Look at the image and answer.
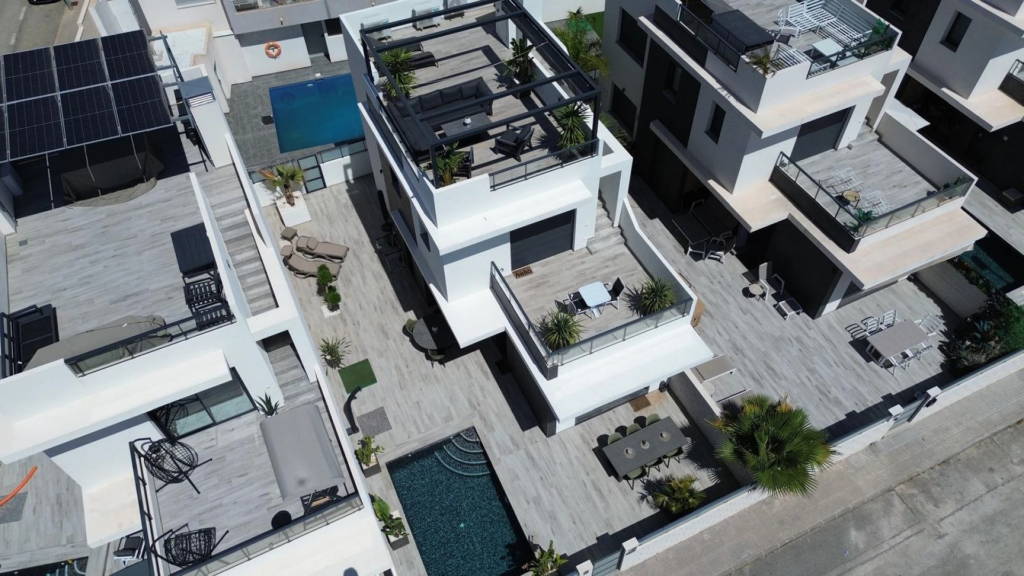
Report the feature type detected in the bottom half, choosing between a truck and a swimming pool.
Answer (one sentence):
What appears in the bottom half is a swimming pool.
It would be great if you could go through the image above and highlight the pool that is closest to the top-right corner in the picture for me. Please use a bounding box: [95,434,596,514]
[957,204,1024,297]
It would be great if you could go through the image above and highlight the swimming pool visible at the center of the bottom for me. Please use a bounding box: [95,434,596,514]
[386,427,536,576]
